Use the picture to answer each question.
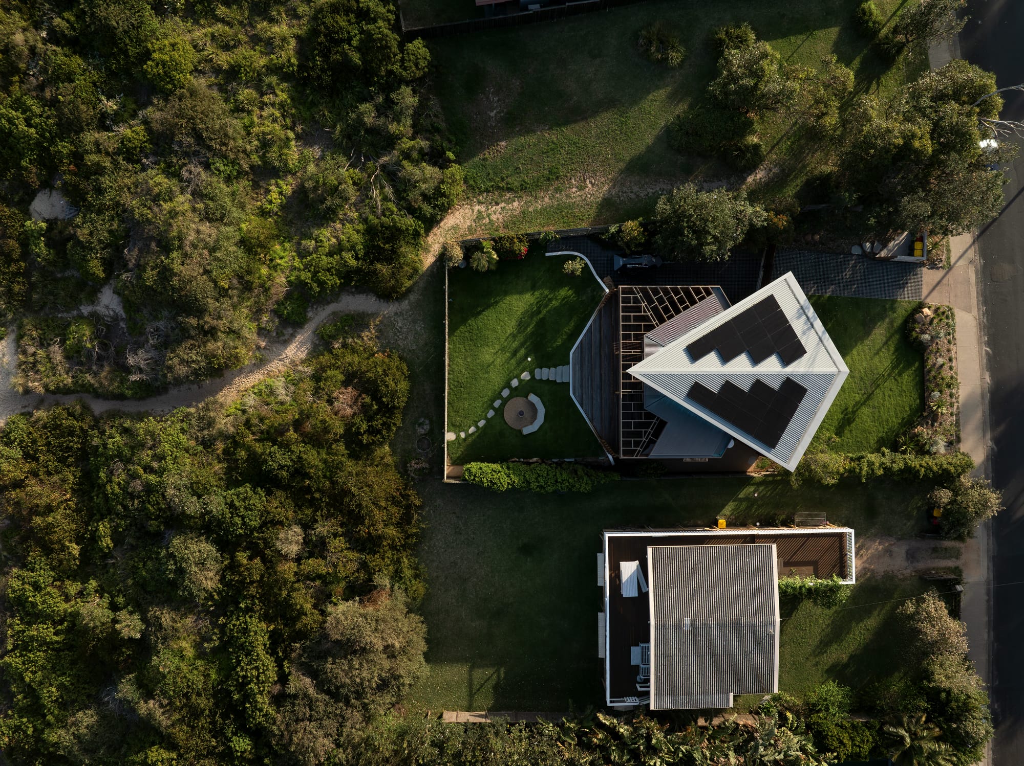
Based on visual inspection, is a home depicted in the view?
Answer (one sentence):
Yes, a home appears in the view.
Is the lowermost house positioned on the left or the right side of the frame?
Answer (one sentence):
It is on the right.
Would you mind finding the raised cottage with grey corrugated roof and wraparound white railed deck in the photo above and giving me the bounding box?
[597,523,855,711]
